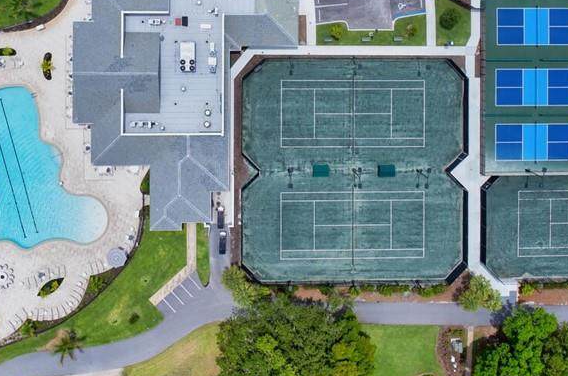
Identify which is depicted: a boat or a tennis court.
tennis court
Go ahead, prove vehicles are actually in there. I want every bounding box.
[219,230,227,254]
[217,205,225,228]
